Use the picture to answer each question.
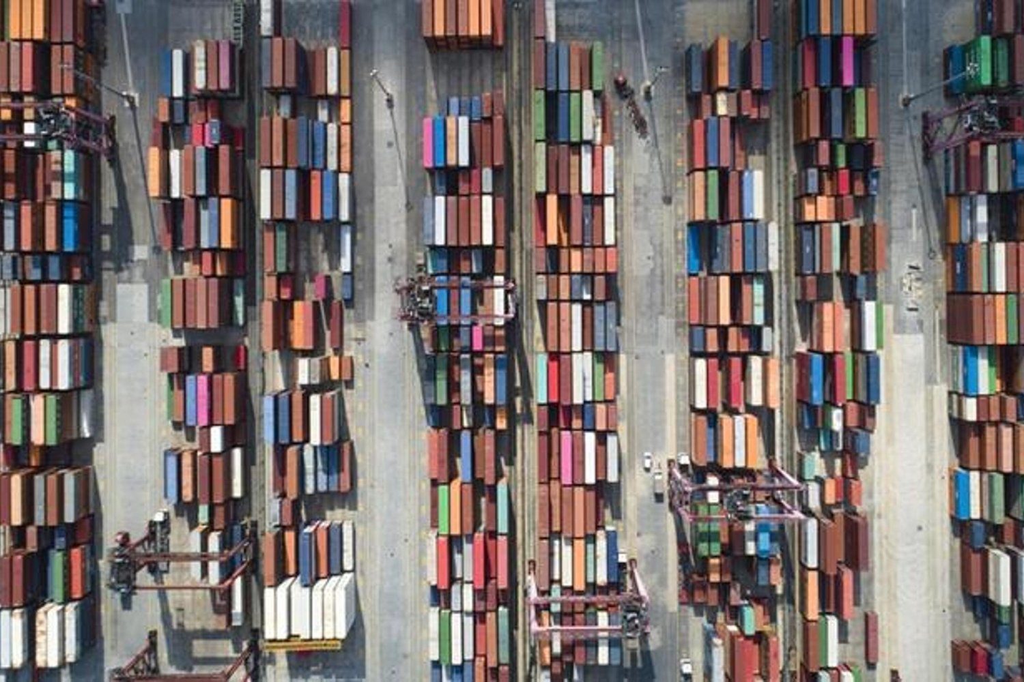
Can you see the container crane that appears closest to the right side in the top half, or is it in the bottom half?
top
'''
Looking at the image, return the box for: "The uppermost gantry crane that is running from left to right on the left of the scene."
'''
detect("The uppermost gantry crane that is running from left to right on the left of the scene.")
[0,99,115,166]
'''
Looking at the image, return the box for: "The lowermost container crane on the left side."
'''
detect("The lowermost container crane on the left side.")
[102,625,257,682]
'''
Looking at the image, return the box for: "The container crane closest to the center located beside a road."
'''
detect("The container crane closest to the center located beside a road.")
[389,269,518,328]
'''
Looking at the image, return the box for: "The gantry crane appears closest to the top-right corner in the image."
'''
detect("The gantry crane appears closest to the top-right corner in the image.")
[923,96,1024,164]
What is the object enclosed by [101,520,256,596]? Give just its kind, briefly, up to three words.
container crane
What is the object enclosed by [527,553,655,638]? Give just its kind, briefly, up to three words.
container crane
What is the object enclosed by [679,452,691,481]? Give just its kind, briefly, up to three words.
vehicle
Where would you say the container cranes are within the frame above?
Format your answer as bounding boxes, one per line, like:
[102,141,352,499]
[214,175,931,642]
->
[923,96,1024,164]
[389,269,518,328]
[102,625,257,682]
[527,553,655,638]
[101,520,256,596]
[0,99,115,166]
[665,453,810,526]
